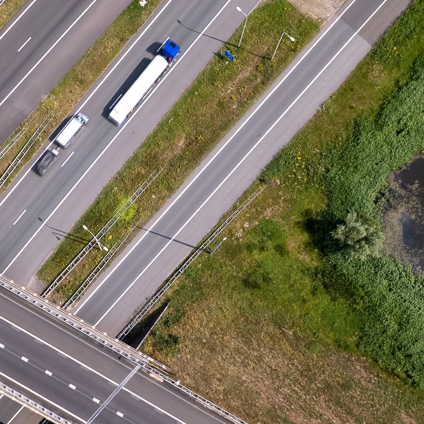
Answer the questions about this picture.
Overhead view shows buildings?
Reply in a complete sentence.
No, no building is visible in the scene.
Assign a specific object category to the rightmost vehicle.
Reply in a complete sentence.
The rightmost vehicle appears to be a truck.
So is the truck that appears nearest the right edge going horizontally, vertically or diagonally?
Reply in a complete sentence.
From this overhead view, the truck that appears nearest the right edge appears to run diagonally.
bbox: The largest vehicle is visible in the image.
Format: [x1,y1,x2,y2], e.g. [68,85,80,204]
[107,41,183,130]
